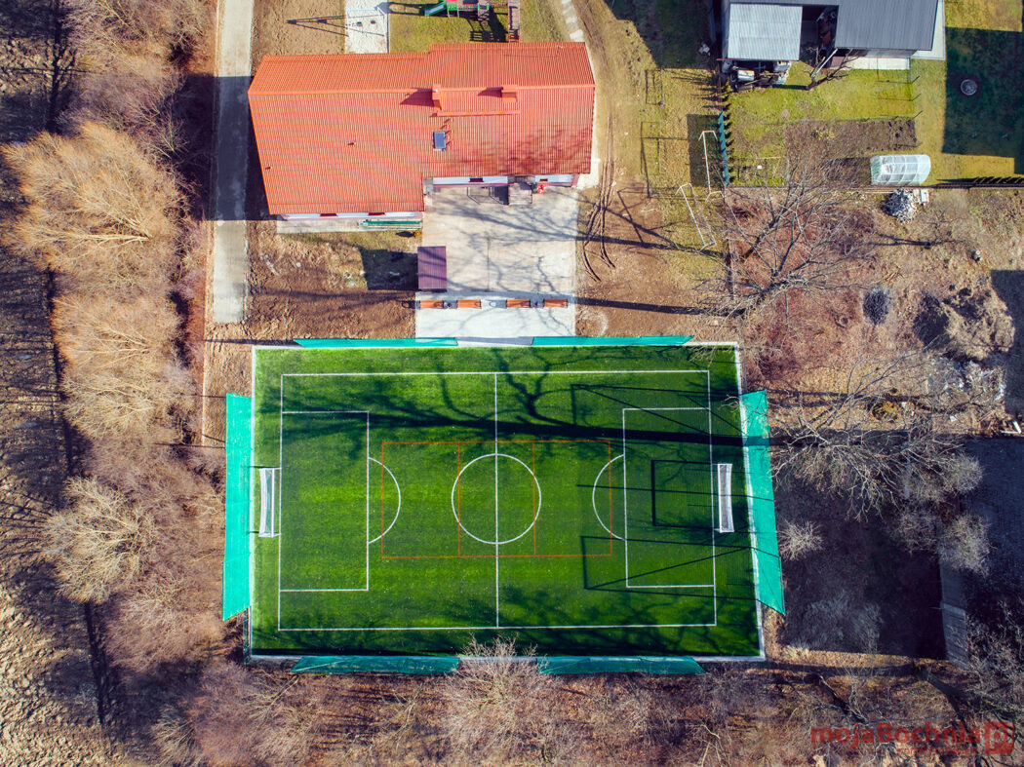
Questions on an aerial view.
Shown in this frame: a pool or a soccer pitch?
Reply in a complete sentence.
Of the two, only a soccer pitch appears.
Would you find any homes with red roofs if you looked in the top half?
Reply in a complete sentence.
Yes, in the top half there is a home with a red roof.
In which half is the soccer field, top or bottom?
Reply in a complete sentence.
The soccer field sits in the bottom half of the picture.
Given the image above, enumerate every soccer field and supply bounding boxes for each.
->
[247,343,765,661]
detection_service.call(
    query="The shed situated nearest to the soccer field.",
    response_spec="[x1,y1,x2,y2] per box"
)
[418,247,447,294]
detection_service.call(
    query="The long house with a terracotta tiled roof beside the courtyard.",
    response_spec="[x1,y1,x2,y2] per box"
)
[248,39,596,220]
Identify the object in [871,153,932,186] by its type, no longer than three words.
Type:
greenhouse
